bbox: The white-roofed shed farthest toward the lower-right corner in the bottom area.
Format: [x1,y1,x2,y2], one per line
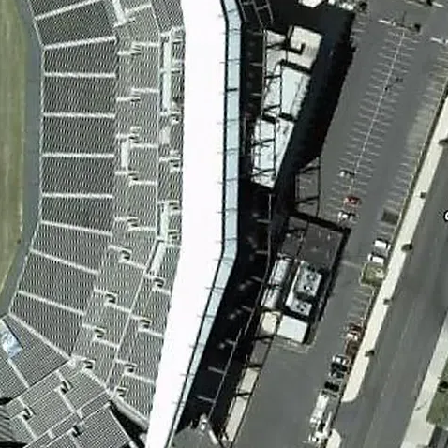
[277,316,309,343]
